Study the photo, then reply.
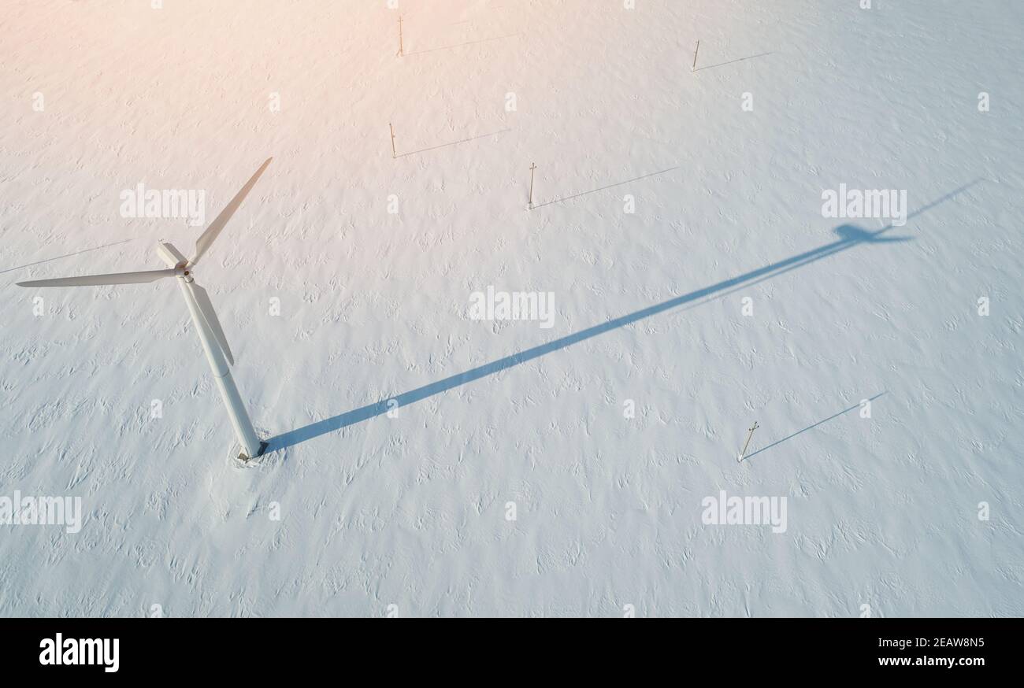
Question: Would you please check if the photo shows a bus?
No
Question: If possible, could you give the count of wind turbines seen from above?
1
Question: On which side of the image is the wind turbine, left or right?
left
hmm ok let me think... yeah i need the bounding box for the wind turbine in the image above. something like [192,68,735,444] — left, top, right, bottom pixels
[16,154,271,463]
